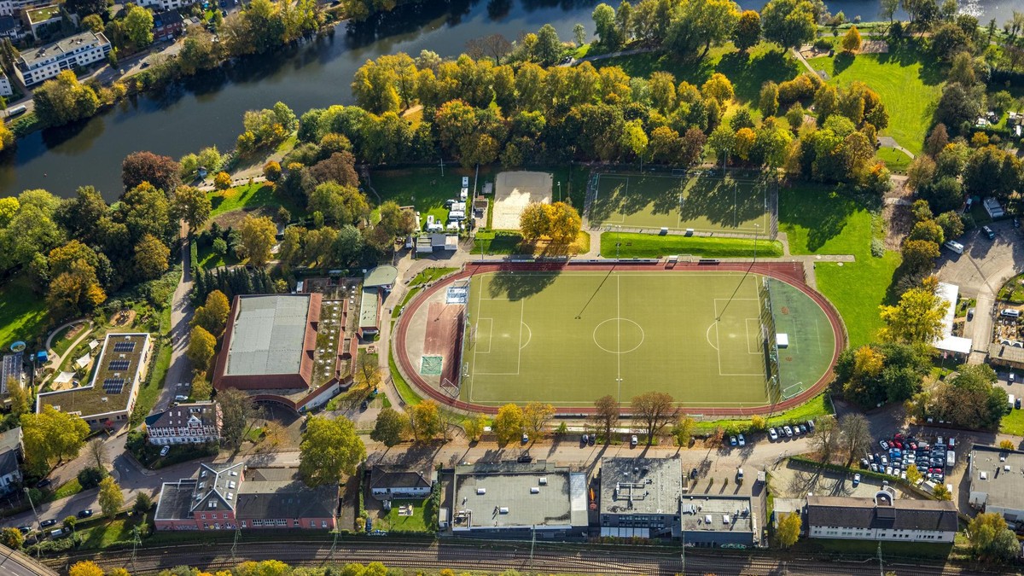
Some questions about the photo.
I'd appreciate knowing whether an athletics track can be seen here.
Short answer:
Yes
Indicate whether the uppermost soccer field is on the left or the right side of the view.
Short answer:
right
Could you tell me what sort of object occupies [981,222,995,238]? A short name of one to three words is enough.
vehicle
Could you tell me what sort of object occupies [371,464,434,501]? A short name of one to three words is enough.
house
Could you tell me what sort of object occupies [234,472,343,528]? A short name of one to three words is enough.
building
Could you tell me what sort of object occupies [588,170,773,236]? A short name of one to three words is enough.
soccer field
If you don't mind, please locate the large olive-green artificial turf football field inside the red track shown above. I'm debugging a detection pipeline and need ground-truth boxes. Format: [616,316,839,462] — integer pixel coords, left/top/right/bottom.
[461,271,778,405]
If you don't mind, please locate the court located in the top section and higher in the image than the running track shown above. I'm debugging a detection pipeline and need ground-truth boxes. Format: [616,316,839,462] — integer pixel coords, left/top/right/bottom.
[491,171,552,229]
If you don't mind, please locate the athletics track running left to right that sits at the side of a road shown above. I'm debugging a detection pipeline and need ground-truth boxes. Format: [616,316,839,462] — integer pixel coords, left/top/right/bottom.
[389,260,851,418]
